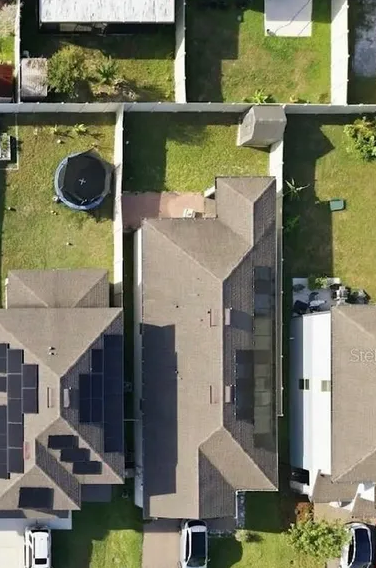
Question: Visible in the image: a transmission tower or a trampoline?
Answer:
trampoline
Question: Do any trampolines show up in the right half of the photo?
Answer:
No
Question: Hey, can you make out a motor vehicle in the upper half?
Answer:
No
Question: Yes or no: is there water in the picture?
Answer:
No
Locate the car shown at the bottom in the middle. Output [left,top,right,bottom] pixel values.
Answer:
[181,523,213,568]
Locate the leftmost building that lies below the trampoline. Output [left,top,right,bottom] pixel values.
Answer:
[0,269,125,517]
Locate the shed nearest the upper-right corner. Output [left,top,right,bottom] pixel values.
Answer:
[238,101,289,150]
